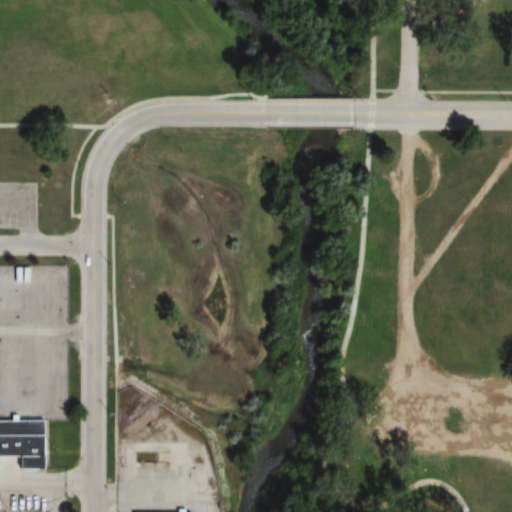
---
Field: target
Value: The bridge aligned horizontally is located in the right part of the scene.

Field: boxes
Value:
[266,98,354,128]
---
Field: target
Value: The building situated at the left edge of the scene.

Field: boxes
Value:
[0,414,48,468]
